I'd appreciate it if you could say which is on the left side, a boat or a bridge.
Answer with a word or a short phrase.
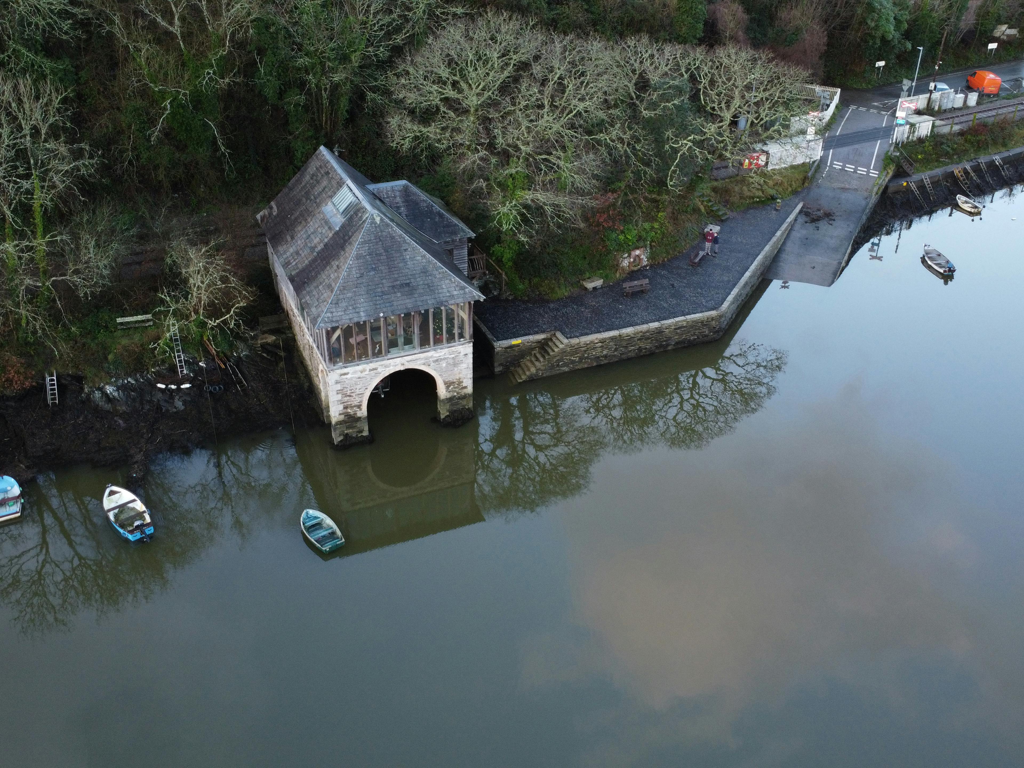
boat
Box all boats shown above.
[918,244,958,280]
[957,194,987,214]
[299,509,348,559]
[103,484,156,543]
[0,473,26,523]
